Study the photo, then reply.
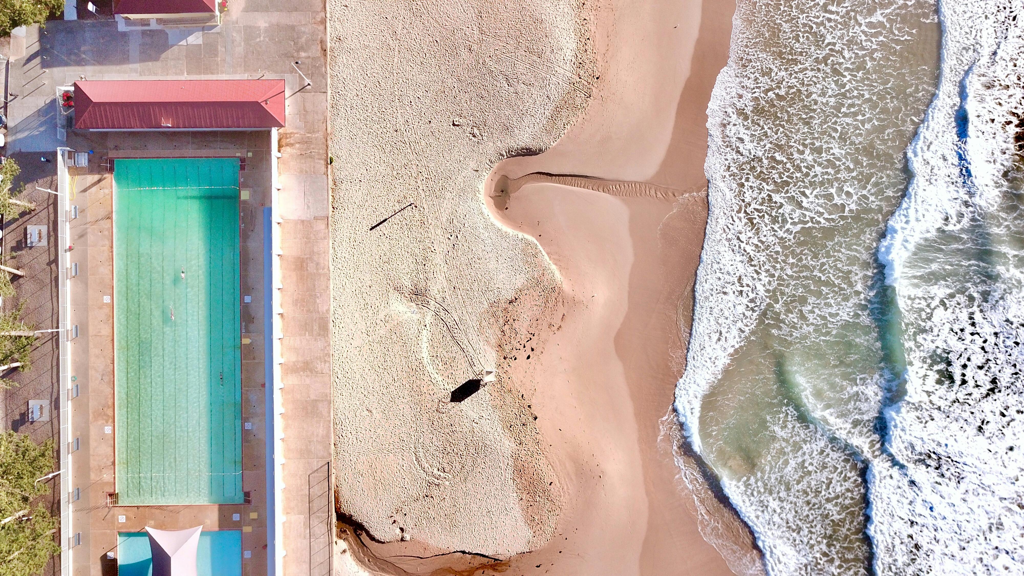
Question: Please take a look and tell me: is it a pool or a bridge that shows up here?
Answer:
pool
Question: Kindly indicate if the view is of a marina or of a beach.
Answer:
beach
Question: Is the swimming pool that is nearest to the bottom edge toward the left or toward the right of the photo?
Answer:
left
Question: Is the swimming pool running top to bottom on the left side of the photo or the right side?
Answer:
left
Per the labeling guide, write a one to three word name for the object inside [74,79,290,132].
building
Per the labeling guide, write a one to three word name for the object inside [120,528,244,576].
swimming pool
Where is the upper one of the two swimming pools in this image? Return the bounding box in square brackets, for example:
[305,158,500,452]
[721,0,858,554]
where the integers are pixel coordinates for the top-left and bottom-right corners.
[104,156,253,507]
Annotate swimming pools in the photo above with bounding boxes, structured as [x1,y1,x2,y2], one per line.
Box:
[120,528,244,576]
[104,156,253,507]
